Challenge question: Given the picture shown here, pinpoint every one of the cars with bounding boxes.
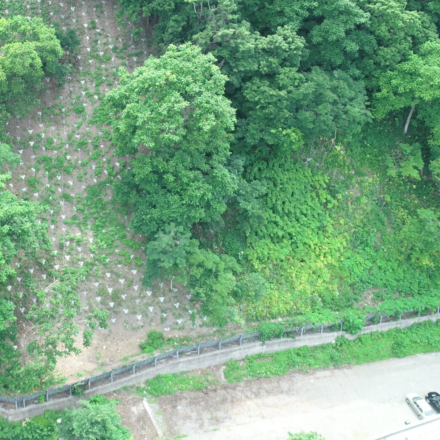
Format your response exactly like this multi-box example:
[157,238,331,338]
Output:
[405,391,437,422]
[426,391,440,412]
